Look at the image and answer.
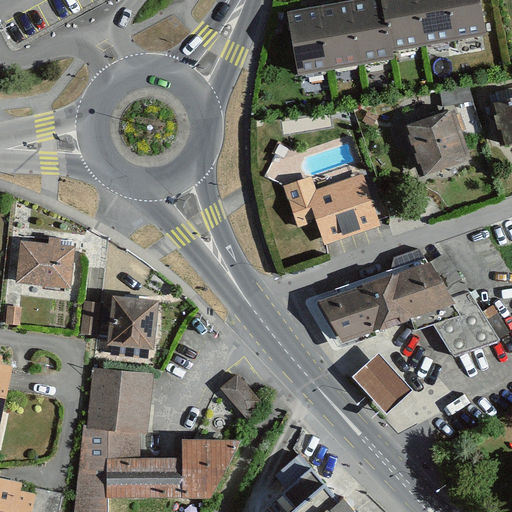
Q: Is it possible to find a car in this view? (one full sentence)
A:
Yes, you can see a car in this photo.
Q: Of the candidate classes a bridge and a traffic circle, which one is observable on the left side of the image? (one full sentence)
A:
You can see a traffic circle on the left side of the image.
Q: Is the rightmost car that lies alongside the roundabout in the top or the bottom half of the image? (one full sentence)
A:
Seen from above, the rightmost car that lies alongside the roundabout lies in the top half of the view.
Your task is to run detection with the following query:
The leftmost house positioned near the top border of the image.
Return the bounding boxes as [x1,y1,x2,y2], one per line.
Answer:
[287,0,395,74]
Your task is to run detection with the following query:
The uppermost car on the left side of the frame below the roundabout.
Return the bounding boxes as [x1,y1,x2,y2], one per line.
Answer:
[116,270,142,290]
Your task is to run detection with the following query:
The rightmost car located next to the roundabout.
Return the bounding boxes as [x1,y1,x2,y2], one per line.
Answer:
[181,33,205,56]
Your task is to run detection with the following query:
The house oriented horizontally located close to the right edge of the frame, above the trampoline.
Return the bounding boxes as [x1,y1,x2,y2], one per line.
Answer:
[382,0,488,48]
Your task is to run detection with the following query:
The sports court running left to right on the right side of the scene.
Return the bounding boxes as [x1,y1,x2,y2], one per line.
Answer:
[282,115,334,136]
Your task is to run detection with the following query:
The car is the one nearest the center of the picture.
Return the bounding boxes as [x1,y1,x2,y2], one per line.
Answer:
[192,316,208,335]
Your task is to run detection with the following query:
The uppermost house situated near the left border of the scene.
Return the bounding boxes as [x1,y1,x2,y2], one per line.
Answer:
[16,240,75,290]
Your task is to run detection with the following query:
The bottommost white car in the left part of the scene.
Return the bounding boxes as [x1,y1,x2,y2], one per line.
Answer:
[184,406,200,428]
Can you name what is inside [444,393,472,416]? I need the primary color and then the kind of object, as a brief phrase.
white camper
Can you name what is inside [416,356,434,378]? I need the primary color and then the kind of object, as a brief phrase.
white car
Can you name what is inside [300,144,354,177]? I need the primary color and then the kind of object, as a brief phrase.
blue swimming pool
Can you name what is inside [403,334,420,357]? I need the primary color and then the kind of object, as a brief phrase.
red car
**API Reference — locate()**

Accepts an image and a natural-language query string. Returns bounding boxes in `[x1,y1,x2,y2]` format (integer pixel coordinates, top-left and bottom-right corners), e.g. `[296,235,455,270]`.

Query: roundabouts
[76,54,223,200]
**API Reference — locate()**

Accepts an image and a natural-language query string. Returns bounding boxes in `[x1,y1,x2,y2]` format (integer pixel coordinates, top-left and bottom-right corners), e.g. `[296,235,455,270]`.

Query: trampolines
[433,58,452,77]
